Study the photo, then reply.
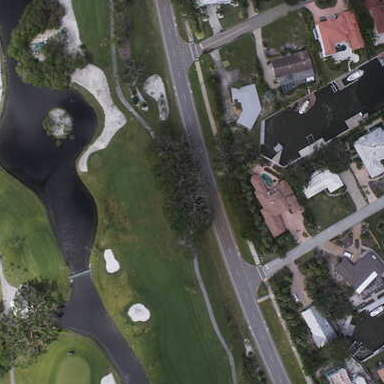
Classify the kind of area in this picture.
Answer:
golf course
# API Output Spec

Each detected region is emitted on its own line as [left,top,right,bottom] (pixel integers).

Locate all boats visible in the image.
[299,102,308,114]
[346,71,363,83]
[370,308,383,316]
